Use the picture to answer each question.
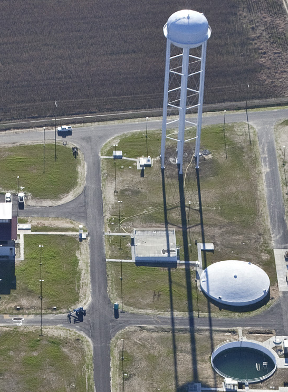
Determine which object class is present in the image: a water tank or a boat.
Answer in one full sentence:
Visible in the photo is a water tank.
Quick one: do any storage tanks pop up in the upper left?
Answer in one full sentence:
No, no storage tank can be made out in the upper left.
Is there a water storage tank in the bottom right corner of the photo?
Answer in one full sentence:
Yes, a water storage tank shows up in the bottom right corner of the photo.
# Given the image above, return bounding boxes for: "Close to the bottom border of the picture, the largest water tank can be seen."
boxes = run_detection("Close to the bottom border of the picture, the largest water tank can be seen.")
[207,336,282,385]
